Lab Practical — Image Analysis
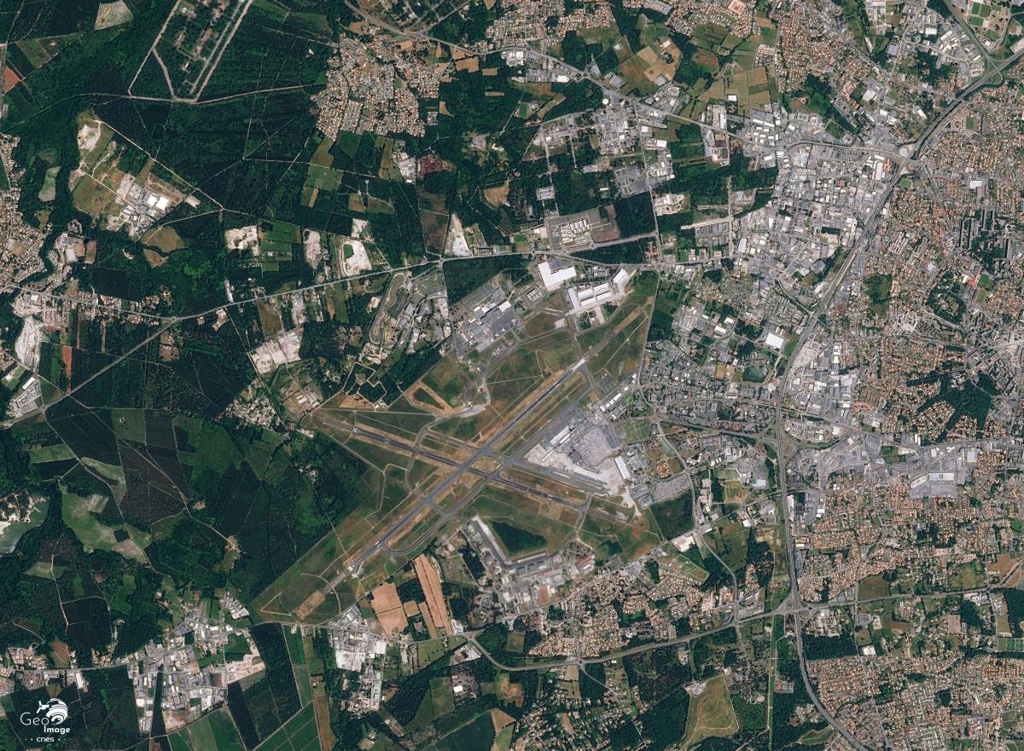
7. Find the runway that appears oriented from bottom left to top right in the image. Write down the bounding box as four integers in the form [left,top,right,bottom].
[355,360,587,567]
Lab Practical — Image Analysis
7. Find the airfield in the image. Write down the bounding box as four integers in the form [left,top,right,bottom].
[254,258,664,626]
